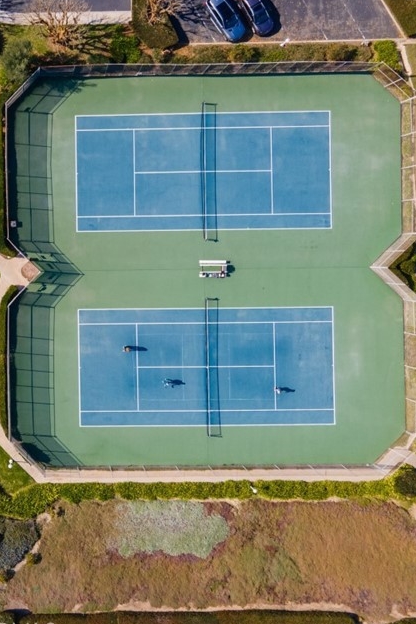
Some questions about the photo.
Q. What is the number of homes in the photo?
zero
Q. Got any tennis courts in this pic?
Yes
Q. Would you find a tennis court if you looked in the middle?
Yes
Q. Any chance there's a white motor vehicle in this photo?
No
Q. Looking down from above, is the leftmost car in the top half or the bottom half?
top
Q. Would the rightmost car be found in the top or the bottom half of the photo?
top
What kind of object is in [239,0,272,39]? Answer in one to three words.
car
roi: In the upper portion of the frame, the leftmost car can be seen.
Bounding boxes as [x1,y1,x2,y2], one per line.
[206,0,244,44]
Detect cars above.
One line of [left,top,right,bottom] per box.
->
[206,0,244,44]
[239,0,272,39]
